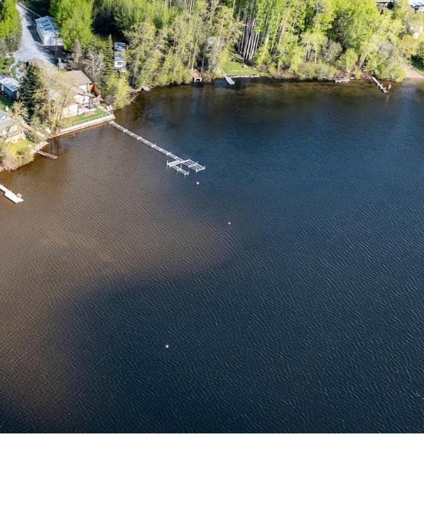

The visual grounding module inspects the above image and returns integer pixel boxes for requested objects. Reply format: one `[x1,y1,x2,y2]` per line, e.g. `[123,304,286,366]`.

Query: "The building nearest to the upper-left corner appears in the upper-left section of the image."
[37,16,64,45]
